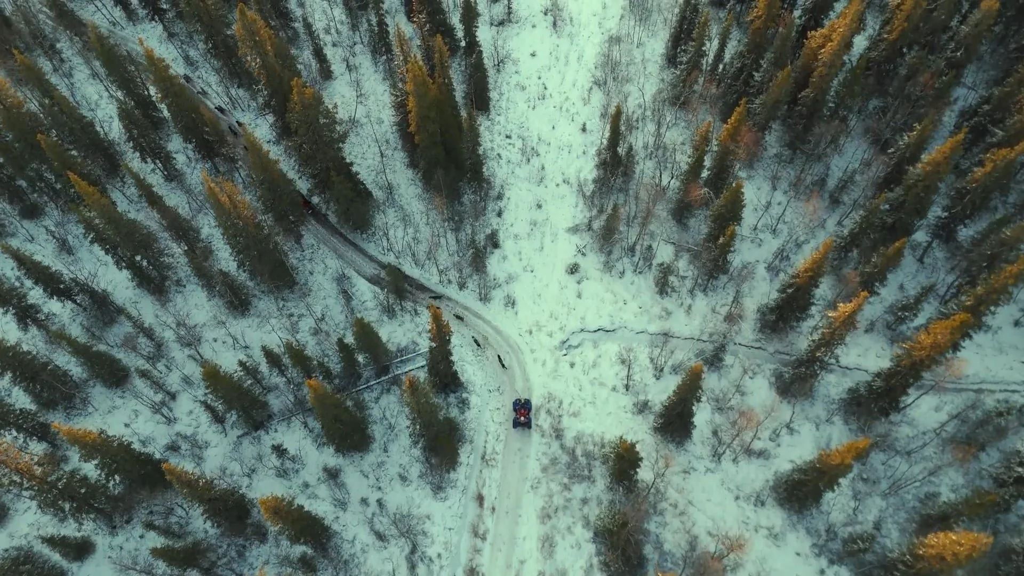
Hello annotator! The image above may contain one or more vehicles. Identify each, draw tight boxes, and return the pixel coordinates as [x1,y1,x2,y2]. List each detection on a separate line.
[299,191,320,218]
[513,397,532,430]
